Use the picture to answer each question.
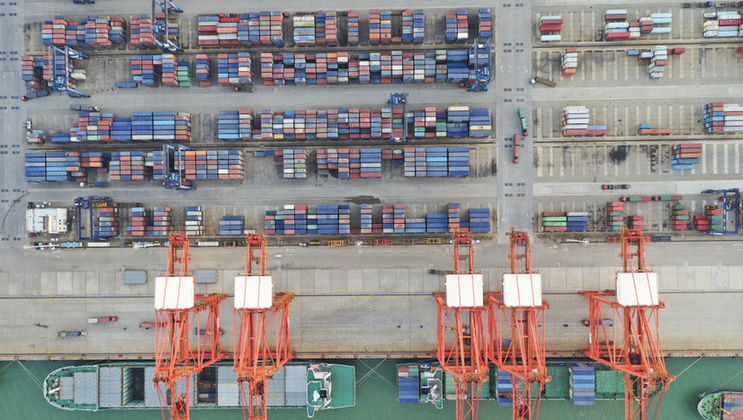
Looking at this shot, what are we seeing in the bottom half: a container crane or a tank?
container crane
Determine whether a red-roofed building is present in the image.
No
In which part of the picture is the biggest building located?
left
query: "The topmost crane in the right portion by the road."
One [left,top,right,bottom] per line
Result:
[465,38,492,91]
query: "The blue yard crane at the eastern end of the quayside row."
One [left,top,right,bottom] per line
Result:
[702,188,743,235]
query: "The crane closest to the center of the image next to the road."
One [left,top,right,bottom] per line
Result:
[386,87,410,141]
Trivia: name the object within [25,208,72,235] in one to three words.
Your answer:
building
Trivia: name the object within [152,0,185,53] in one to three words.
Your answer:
crane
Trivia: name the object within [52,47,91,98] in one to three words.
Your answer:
crane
